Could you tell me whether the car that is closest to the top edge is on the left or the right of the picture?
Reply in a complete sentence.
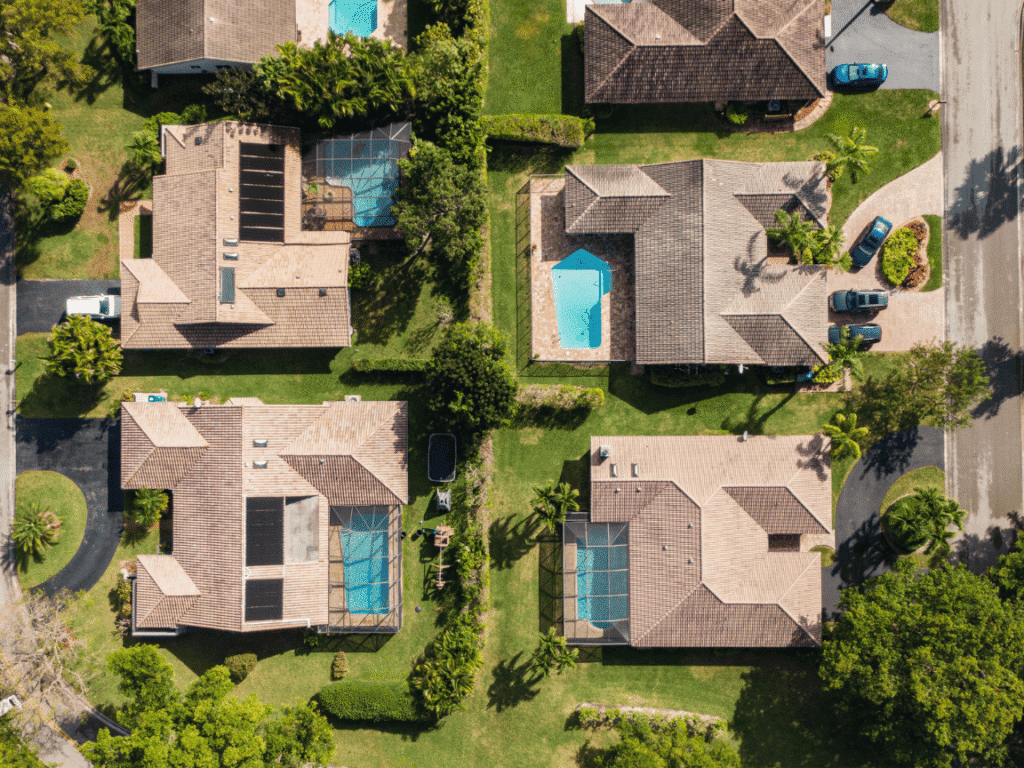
You can find the car that is closest to the top edge on the right side of the picture.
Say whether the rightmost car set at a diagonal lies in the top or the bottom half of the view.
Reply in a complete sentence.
The rightmost car set at a diagonal is in the top half of the image.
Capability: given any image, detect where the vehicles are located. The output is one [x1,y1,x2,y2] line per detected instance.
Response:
[828,287,890,315]
[828,60,888,90]
[828,321,882,346]
[65,291,121,320]
[848,215,895,270]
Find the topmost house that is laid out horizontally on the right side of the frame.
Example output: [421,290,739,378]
[584,0,832,115]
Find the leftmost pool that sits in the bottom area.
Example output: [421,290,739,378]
[338,510,391,617]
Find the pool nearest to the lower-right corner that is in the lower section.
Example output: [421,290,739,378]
[574,523,629,632]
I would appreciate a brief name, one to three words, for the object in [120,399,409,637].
house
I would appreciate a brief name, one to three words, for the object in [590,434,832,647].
house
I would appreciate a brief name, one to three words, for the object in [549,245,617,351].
swimming pool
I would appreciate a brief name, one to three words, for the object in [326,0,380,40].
swimming pool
